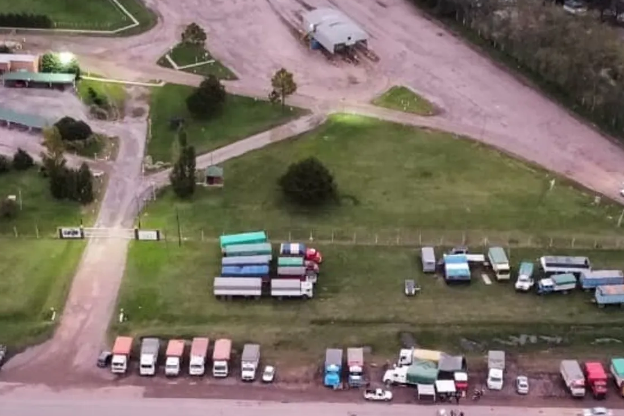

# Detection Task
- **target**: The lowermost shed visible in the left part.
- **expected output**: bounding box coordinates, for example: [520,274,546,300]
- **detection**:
[201,165,222,184]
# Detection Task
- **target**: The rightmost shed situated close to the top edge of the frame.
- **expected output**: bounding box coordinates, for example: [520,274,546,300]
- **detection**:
[304,9,373,77]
